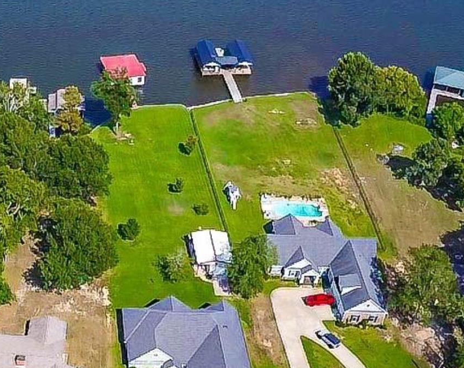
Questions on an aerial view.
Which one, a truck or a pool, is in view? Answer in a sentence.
There is a pool in the scene.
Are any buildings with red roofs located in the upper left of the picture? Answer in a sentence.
Yes, a building with a red roof appears in the upper left of the picture.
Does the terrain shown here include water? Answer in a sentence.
Yes, water can be seen from above here.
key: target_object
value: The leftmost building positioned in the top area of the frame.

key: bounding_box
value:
[47,90,89,127]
